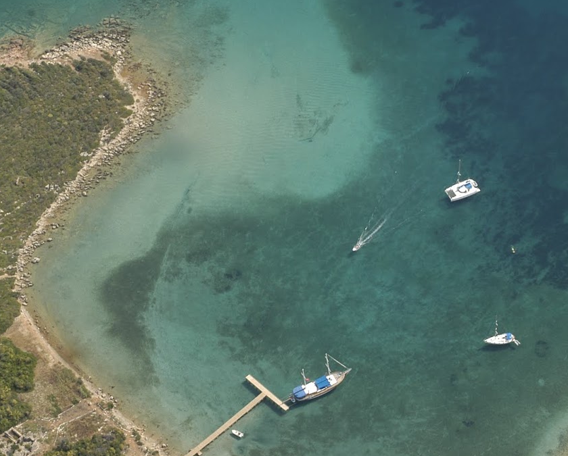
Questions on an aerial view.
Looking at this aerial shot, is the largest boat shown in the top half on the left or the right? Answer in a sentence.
It is on the right.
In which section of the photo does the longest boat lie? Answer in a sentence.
You can find the longest boat in the bottom area of the picture.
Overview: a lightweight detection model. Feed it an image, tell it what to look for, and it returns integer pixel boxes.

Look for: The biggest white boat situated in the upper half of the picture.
[446,160,481,203]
